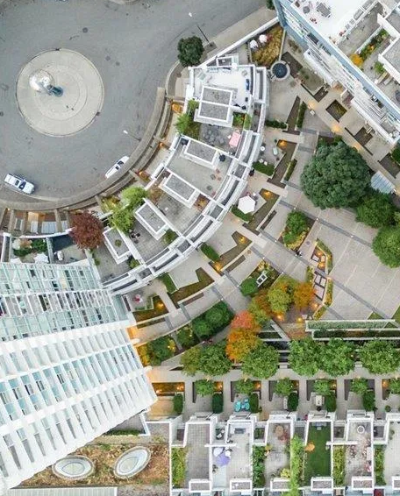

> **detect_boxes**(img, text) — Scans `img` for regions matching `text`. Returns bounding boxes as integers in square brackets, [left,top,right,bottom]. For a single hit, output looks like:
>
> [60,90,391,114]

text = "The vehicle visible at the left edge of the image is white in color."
[3,172,36,194]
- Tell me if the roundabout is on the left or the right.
left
